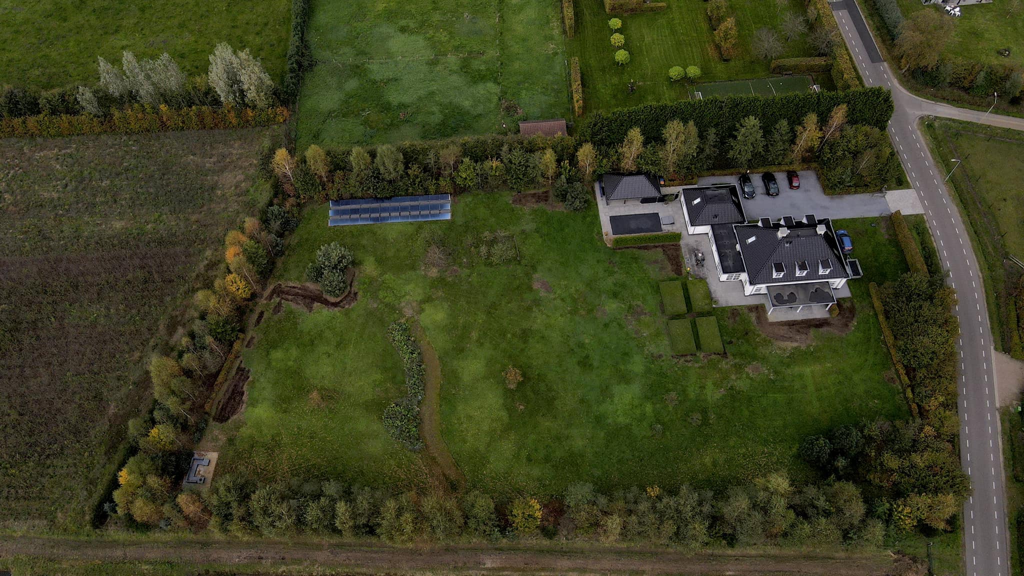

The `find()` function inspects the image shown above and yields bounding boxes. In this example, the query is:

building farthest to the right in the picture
[681,183,852,315]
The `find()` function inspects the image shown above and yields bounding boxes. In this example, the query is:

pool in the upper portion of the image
[608,211,663,236]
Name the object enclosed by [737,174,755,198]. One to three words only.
car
